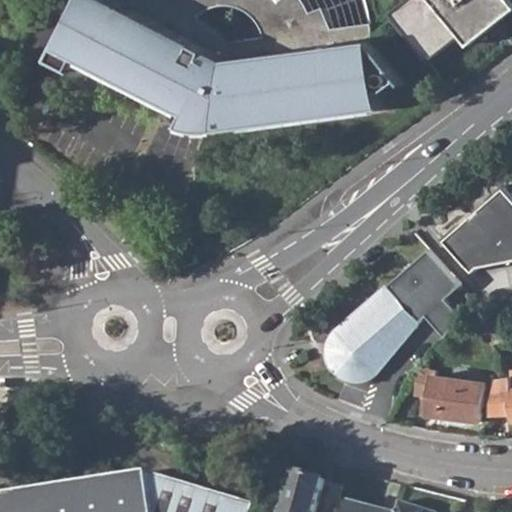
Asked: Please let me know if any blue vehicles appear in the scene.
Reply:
No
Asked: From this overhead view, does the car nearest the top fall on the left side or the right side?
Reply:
right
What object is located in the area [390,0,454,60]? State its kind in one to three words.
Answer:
building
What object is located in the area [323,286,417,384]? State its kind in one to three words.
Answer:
building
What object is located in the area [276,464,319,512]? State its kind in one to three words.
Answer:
house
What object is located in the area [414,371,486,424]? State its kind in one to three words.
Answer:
house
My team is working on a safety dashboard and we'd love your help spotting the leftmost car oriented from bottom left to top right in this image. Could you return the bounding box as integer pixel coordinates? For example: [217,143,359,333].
[260,314,283,331]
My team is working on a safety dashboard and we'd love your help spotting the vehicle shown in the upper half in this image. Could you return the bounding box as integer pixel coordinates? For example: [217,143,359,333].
[420,140,442,159]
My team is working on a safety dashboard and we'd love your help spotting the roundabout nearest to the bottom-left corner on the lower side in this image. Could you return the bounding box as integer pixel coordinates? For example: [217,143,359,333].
[92,306,138,352]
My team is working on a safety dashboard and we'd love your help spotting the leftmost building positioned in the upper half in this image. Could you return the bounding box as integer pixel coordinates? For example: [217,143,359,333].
[37,0,371,140]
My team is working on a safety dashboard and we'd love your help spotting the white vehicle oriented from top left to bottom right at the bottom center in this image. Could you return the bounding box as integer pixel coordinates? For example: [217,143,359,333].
[255,364,274,386]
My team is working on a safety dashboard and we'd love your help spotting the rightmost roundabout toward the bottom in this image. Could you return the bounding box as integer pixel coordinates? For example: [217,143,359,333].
[202,309,247,354]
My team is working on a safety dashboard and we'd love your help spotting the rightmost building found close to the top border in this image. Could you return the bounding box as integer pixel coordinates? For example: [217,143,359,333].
[422,0,511,52]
